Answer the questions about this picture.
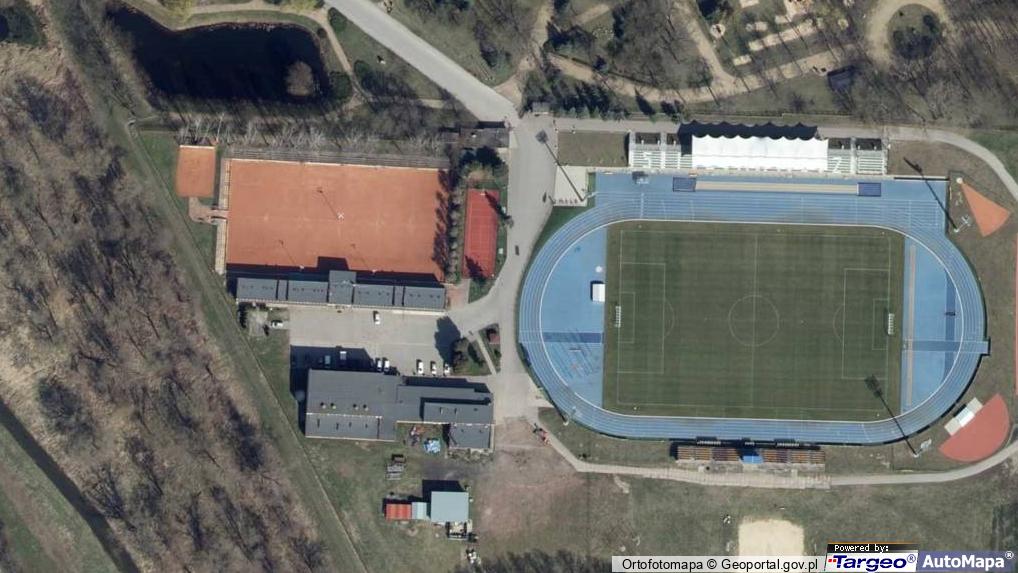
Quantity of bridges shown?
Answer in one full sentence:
There are no bridges in this view.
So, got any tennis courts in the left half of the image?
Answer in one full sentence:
Yes, a tennis court shows up in the left half of the image.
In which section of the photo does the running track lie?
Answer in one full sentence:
The running track is in the right part of the image.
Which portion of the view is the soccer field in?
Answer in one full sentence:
The soccer field sits in the right section of the image.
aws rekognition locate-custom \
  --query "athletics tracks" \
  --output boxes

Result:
[519,173,989,445]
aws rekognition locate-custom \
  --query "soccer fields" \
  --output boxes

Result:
[601,222,904,422]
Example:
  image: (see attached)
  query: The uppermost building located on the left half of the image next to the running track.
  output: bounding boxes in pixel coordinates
[236,268,446,315]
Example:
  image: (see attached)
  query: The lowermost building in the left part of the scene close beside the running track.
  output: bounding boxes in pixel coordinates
[303,370,494,449]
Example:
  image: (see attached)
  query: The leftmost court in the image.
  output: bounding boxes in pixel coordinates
[175,144,217,197]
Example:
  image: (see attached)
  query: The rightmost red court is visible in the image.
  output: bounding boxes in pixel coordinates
[463,189,499,279]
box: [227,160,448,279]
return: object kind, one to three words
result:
tennis court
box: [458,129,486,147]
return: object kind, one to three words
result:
shed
